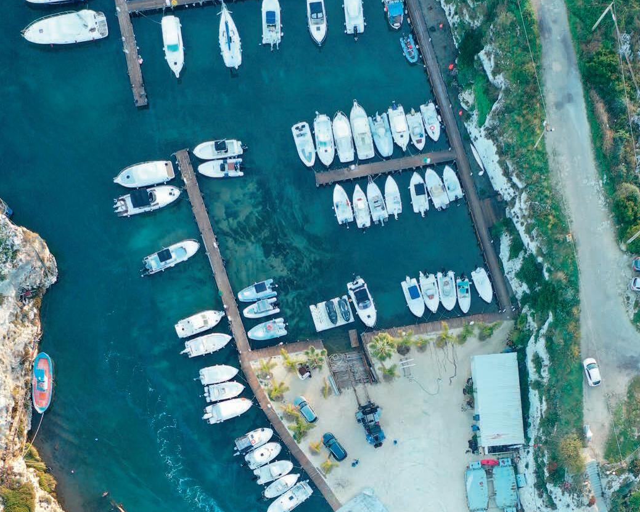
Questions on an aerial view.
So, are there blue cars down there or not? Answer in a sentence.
Yes, a blue car is visible in the scene.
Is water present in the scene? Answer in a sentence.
Yes, water can be seen from above here.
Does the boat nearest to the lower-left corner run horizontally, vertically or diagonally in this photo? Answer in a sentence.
I'd say the boat nearest to the lower-left corner is aligned vertically in the picture.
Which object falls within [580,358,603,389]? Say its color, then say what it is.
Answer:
white car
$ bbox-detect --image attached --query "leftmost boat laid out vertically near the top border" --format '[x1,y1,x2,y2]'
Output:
[162,8,186,75]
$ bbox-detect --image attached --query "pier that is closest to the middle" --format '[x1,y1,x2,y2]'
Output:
[311,297,353,332]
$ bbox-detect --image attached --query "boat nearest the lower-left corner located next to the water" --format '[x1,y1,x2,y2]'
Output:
[31,353,55,440]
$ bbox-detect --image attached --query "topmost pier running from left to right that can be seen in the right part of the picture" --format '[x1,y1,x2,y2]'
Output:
[315,151,456,187]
